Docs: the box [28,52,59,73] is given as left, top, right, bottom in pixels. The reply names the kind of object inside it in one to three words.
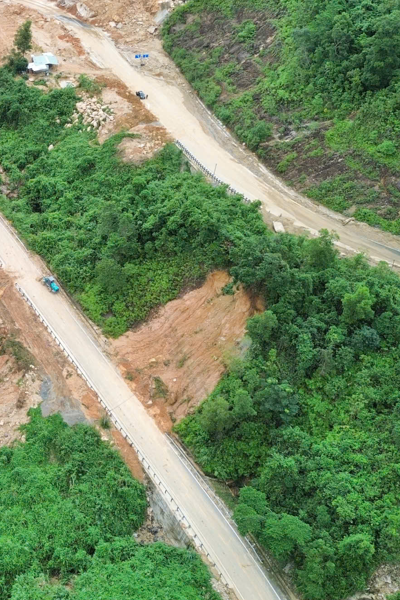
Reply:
shed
